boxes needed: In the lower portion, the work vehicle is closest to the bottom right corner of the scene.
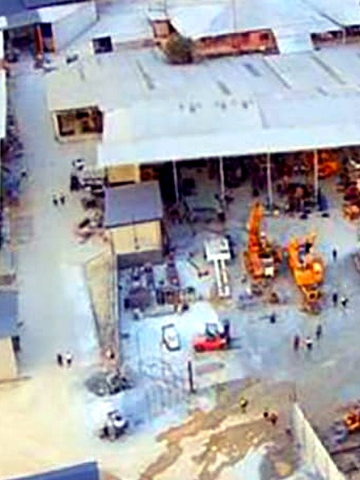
[190,316,242,352]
